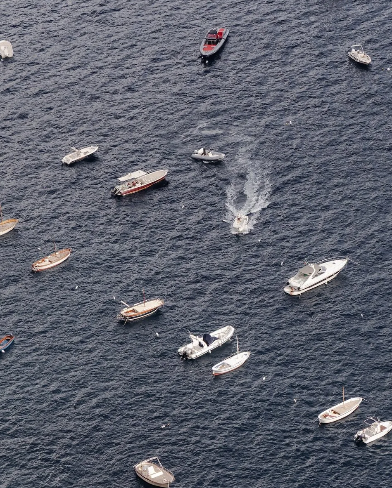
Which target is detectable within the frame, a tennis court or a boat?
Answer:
boat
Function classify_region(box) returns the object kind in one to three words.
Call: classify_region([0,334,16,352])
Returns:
boat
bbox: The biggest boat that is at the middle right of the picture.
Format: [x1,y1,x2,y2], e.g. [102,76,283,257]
[281,254,358,299]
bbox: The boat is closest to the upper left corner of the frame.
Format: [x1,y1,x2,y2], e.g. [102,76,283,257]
[0,40,13,56]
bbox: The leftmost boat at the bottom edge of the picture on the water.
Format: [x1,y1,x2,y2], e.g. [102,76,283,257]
[135,455,172,488]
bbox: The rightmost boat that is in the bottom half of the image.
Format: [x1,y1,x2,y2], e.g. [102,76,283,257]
[355,413,392,444]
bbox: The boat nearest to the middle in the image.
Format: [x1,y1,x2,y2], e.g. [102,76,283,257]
[233,213,248,231]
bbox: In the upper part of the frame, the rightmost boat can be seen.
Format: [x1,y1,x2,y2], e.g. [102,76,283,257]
[347,43,371,64]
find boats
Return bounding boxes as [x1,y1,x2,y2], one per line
[0,203,22,236]
[233,213,248,231]
[112,168,167,196]
[0,40,13,56]
[188,149,225,159]
[175,326,239,361]
[314,385,369,425]
[135,455,172,488]
[120,288,165,327]
[212,343,254,377]
[30,238,72,273]
[60,146,101,166]
[202,26,230,59]
[347,43,371,64]
[0,334,16,352]
[355,413,392,444]
[281,254,358,299]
